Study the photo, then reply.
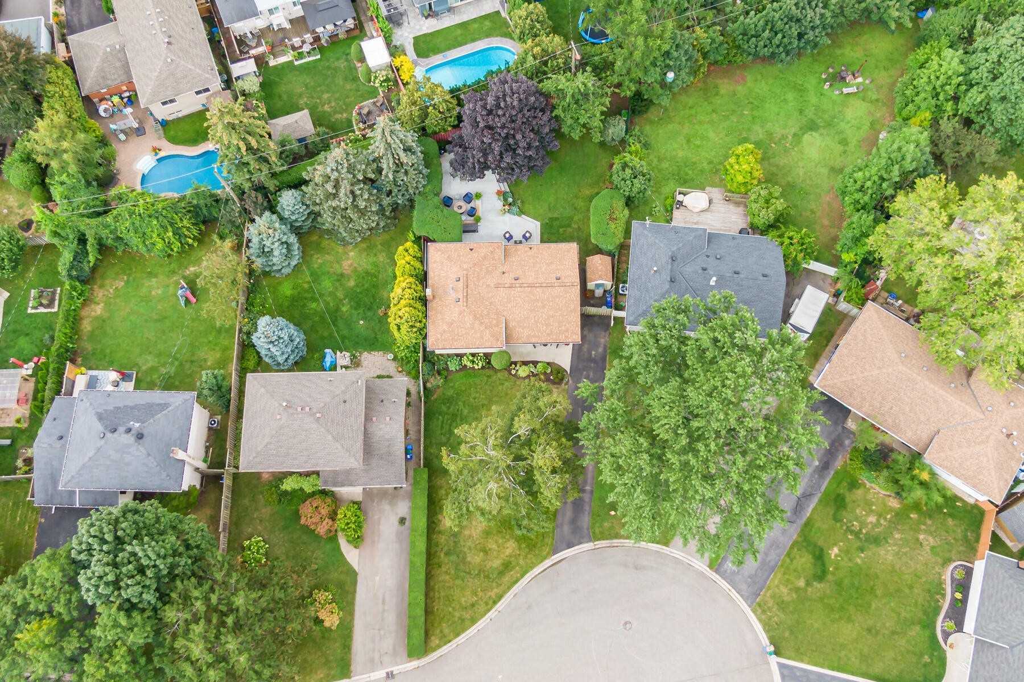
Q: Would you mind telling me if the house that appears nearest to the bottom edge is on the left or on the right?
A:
right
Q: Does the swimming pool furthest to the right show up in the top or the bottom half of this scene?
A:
top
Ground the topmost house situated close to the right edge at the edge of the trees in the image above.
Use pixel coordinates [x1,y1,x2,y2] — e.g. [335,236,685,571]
[811,301,1024,505]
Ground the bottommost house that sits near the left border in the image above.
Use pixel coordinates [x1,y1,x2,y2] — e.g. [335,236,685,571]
[33,390,213,516]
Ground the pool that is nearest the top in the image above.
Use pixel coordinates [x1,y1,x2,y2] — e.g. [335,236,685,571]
[415,43,519,92]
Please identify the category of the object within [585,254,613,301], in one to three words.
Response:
shed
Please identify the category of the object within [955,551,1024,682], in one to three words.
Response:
house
